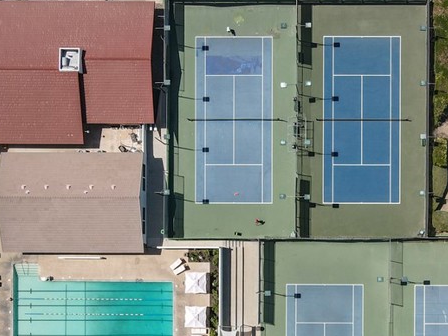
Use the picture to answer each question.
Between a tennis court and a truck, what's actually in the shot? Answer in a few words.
tennis court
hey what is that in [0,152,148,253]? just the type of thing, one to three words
building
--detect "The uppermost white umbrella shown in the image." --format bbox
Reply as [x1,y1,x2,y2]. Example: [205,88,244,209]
[185,272,207,293]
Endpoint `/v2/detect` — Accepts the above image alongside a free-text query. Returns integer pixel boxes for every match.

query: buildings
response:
[0,152,148,253]
[0,0,155,145]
